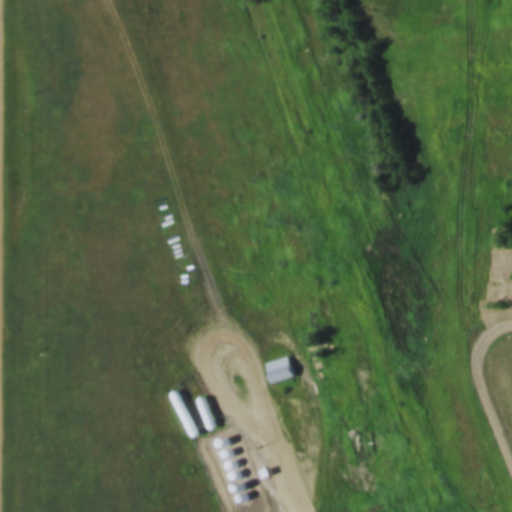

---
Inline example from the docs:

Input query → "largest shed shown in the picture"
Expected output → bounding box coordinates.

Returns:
[265,356,296,384]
